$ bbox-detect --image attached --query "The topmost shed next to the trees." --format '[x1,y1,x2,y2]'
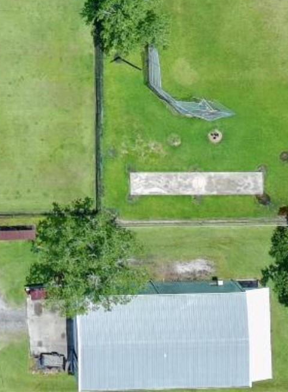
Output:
[0,225,36,243]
